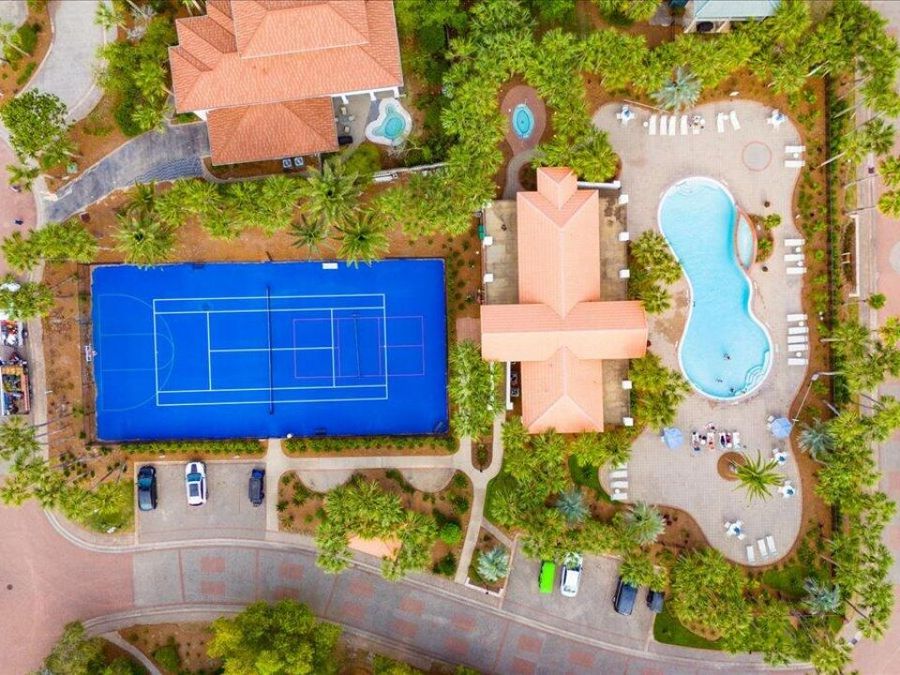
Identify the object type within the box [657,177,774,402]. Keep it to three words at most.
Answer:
swimming pool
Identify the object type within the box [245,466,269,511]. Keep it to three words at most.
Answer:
car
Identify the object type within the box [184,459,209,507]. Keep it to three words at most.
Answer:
car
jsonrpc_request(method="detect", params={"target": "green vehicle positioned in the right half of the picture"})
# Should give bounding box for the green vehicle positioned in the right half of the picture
[537,552,560,594]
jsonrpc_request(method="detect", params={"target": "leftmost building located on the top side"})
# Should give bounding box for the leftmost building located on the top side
[169,0,404,165]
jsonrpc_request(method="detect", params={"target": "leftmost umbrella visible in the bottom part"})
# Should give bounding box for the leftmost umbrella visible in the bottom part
[663,426,687,451]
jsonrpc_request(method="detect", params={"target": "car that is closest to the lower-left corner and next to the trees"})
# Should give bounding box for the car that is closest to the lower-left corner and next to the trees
[134,463,160,512]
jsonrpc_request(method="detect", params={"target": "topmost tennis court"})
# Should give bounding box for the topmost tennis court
[91,258,448,442]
